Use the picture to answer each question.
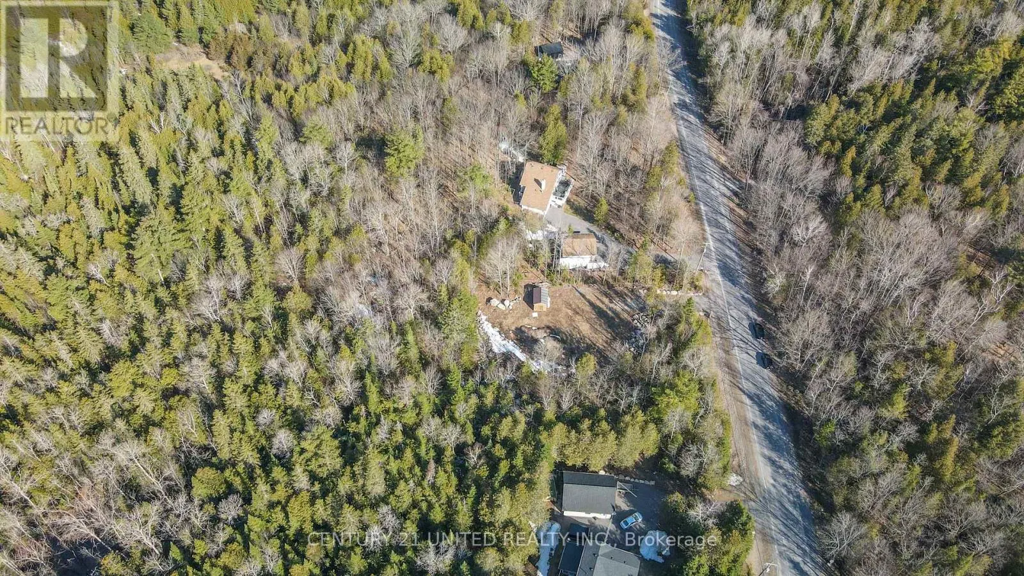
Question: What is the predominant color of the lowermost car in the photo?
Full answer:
In this view, the lowermost car is blue.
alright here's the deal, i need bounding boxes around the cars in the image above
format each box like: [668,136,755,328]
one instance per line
[760,350,775,369]
[617,510,644,531]
[752,322,766,340]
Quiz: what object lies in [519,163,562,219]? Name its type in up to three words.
house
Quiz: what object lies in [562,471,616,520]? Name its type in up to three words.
building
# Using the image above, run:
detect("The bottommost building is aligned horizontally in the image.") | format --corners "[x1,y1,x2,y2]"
[557,539,643,576]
